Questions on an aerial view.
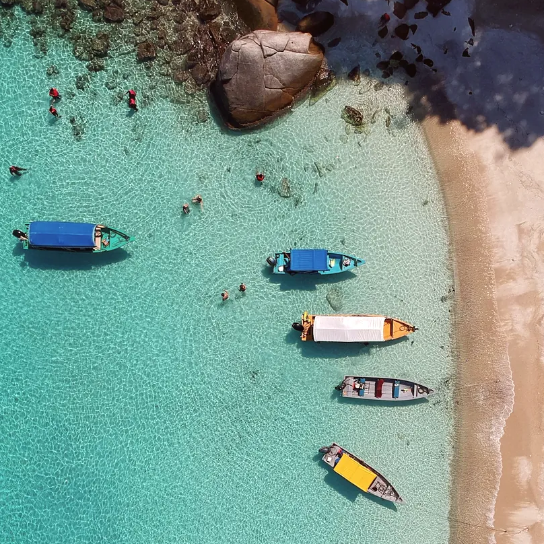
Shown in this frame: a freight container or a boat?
boat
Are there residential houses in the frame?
No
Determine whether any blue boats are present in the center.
Yes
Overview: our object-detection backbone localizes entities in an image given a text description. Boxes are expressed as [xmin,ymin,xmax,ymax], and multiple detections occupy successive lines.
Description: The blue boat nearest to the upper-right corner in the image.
[264,248,365,276]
